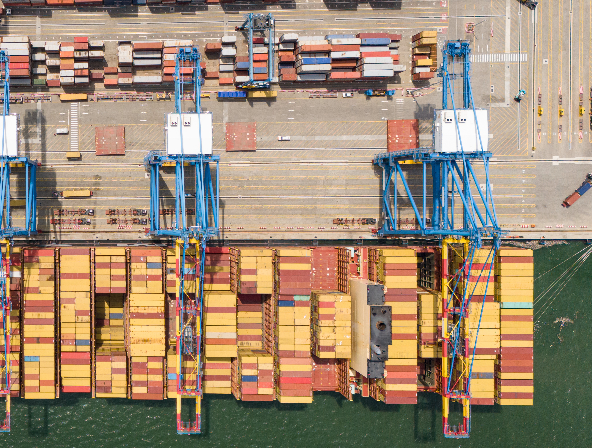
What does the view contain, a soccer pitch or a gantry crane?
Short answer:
gantry crane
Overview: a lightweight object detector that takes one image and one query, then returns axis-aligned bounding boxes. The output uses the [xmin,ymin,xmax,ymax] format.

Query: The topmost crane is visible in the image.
[234,11,276,91]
